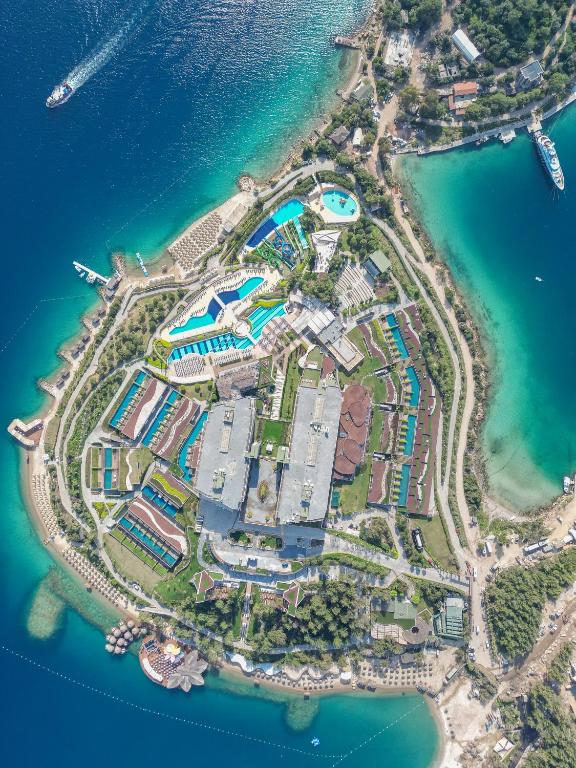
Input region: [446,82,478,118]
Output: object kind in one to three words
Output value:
house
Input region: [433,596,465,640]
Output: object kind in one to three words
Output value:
greenhouse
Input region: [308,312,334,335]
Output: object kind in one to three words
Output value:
building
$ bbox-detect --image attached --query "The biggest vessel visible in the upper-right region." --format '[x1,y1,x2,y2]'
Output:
[534,126,566,188]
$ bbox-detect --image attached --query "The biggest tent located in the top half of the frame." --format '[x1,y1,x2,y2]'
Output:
[310,230,341,250]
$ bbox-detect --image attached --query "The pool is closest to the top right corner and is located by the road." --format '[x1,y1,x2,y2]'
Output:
[322,189,357,216]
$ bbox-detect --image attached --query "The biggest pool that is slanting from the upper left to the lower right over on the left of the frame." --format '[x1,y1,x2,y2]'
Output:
[119,514,178,566]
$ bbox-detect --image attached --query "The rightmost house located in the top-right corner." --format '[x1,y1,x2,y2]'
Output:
[515,60,544,88]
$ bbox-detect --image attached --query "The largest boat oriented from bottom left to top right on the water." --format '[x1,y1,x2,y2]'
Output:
[45,81,73,107]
